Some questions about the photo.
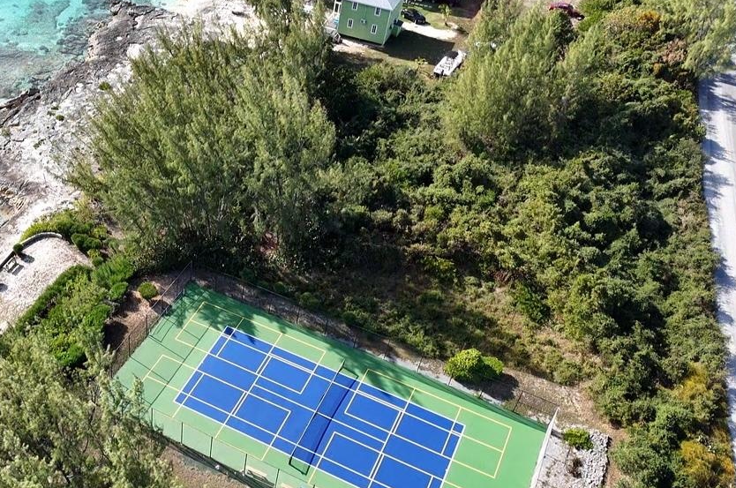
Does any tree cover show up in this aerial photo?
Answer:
Yes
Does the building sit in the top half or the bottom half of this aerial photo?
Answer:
top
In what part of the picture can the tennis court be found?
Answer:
bottom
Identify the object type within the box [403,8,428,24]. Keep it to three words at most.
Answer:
car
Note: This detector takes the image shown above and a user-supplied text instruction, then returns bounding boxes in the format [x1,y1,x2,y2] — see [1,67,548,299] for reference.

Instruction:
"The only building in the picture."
[322,0,409,46]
